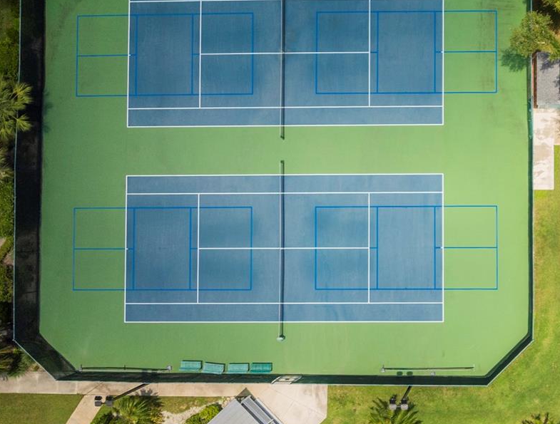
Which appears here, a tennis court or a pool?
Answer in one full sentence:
It is a tennis court that can be seen here.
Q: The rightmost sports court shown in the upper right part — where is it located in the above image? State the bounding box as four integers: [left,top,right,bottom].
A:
[317,10,498,94]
